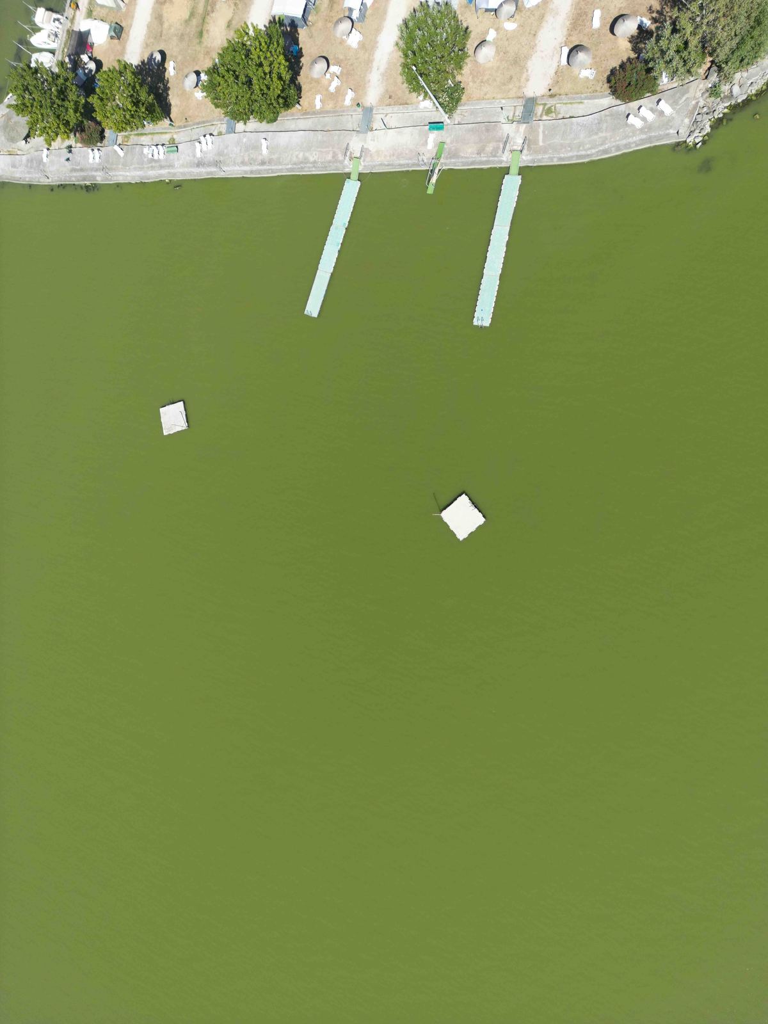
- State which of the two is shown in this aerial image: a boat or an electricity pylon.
boat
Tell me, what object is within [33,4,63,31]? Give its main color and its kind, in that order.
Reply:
white boat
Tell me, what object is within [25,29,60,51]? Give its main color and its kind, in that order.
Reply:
white boat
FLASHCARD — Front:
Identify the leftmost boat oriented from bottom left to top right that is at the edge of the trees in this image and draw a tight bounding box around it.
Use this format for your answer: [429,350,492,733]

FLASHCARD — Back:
[1,83,19,103]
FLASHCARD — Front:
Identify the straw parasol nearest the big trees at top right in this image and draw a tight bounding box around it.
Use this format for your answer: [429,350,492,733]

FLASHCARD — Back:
[612,15,640,51]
